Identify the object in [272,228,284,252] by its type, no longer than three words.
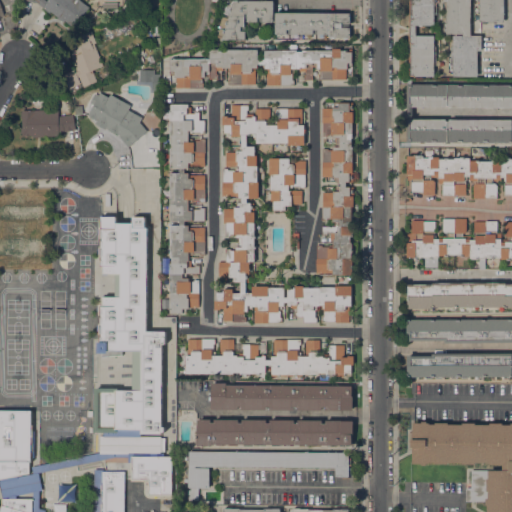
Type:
swimming pool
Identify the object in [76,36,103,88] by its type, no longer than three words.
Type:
house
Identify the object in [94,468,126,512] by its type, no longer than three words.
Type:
building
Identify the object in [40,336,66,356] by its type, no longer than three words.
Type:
sports court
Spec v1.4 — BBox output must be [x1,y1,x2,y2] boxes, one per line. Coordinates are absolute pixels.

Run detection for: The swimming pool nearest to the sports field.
[128,86,152,101]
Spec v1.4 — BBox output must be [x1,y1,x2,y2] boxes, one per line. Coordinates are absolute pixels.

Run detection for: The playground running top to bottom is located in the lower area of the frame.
[0,188,102,464]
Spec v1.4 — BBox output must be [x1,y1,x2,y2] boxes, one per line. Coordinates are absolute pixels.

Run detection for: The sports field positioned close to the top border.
[170,0,210,42]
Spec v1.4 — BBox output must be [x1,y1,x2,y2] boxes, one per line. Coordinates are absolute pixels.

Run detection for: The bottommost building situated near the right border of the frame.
[412,422,512,512]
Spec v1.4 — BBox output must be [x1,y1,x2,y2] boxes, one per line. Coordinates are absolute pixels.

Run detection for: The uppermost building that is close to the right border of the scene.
[474,0,504,34]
